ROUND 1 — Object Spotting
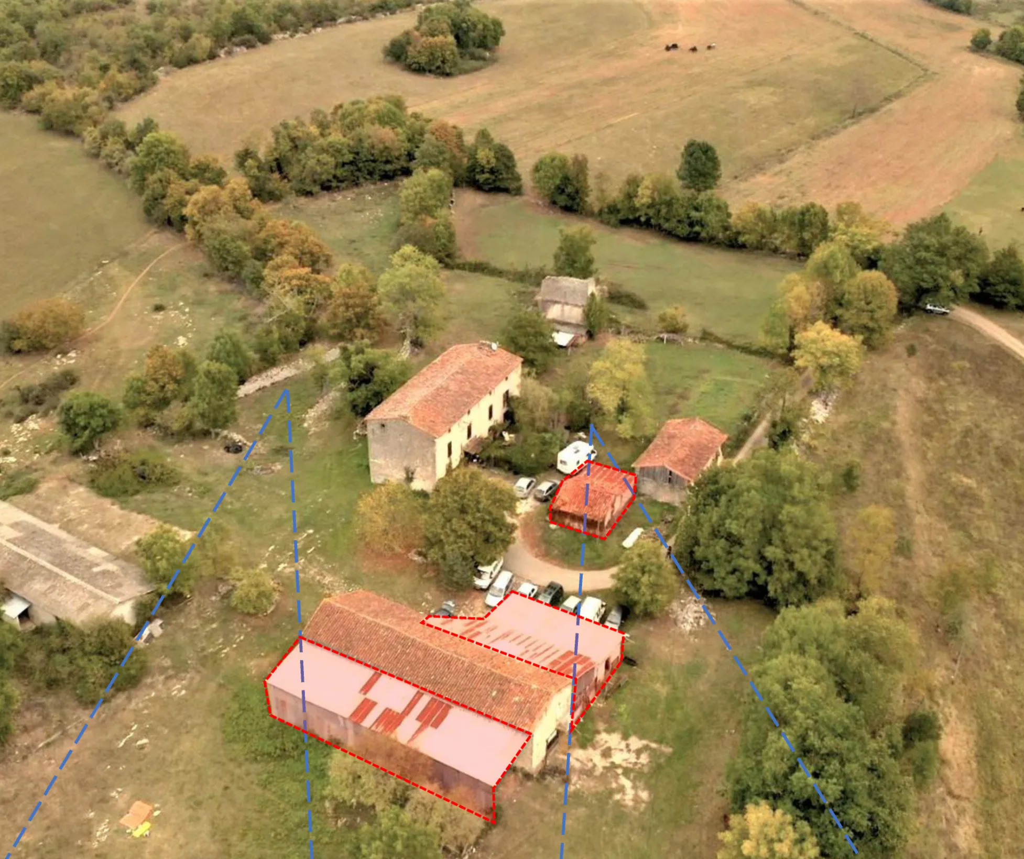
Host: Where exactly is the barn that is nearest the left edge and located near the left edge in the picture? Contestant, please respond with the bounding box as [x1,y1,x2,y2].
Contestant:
[0,503,159,631]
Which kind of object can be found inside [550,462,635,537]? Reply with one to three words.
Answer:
shed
